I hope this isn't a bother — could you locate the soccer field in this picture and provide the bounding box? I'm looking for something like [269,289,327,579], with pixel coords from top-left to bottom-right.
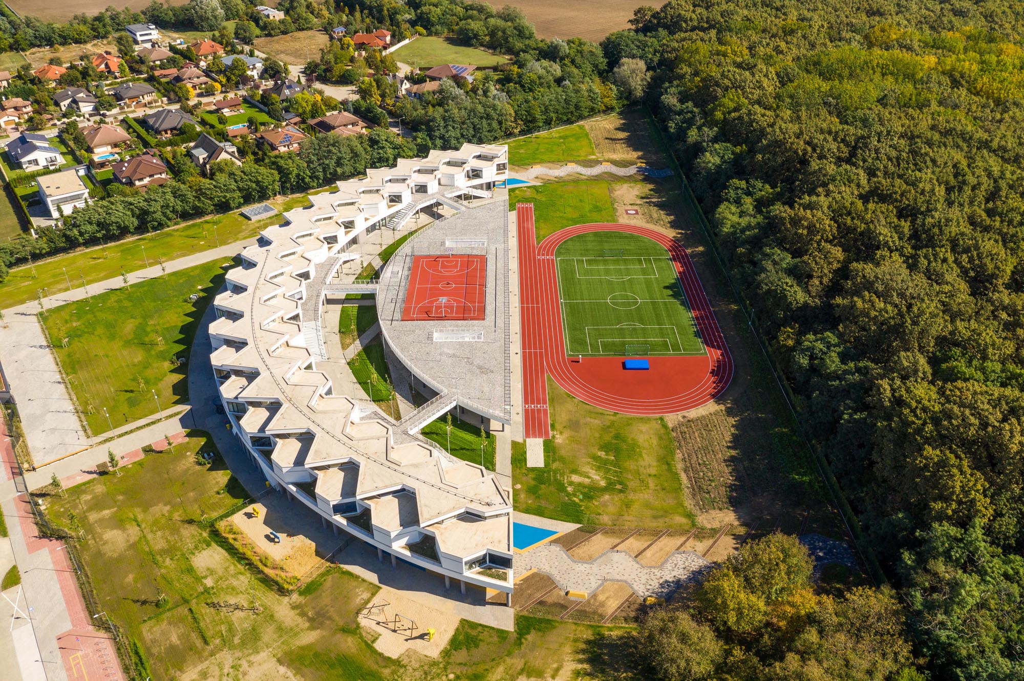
[555,232,708,356]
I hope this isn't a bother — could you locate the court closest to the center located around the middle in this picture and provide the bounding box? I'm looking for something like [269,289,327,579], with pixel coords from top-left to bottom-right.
[401,255,487,321]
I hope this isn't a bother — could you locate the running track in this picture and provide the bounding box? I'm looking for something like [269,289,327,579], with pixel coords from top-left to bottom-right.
[537,225,734,416]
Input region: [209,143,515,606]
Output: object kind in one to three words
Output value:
building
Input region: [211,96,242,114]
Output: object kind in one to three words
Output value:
building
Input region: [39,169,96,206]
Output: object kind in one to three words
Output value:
house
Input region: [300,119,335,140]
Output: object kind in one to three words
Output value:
shed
